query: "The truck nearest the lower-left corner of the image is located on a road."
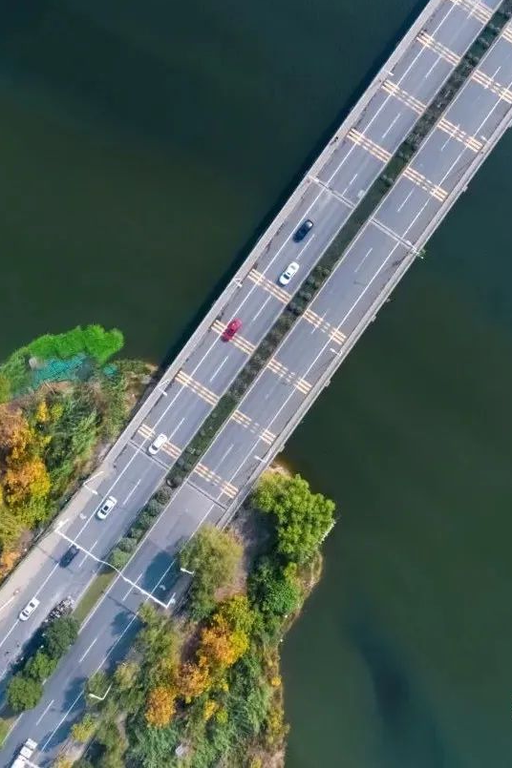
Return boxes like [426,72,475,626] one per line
[8,729,45,768]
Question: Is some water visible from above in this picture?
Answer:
Yes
